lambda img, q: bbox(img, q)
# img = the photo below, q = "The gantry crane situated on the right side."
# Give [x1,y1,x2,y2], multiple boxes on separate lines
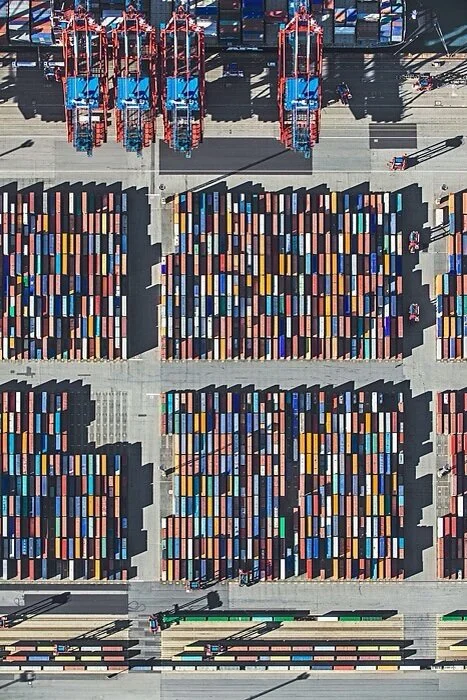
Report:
[272,0,324,163]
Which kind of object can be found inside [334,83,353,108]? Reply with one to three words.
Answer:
work vehicle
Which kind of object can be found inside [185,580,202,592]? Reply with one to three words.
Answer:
vehicle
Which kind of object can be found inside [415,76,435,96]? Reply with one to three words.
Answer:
work vehicle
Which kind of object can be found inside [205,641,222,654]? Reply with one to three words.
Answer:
vehicle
